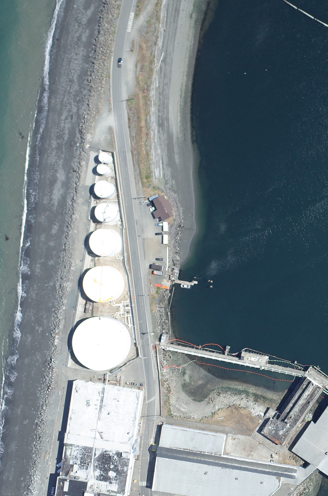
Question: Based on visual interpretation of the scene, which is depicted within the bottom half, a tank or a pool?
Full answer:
You can see a tank within the bottom half.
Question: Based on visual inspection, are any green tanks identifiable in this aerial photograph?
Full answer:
No, no green tank is visible in the scene.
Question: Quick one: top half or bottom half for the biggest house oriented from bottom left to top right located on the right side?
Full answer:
The bottom half of the photo is where the biggest house oriented from bottom left to top right located on the right side is.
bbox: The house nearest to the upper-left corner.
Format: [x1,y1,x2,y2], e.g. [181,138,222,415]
[153,195,174,221]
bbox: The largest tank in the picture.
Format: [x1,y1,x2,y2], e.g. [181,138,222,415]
[71,316,132,371]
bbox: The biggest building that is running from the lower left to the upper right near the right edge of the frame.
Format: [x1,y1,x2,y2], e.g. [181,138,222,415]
[251,377,325,445]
